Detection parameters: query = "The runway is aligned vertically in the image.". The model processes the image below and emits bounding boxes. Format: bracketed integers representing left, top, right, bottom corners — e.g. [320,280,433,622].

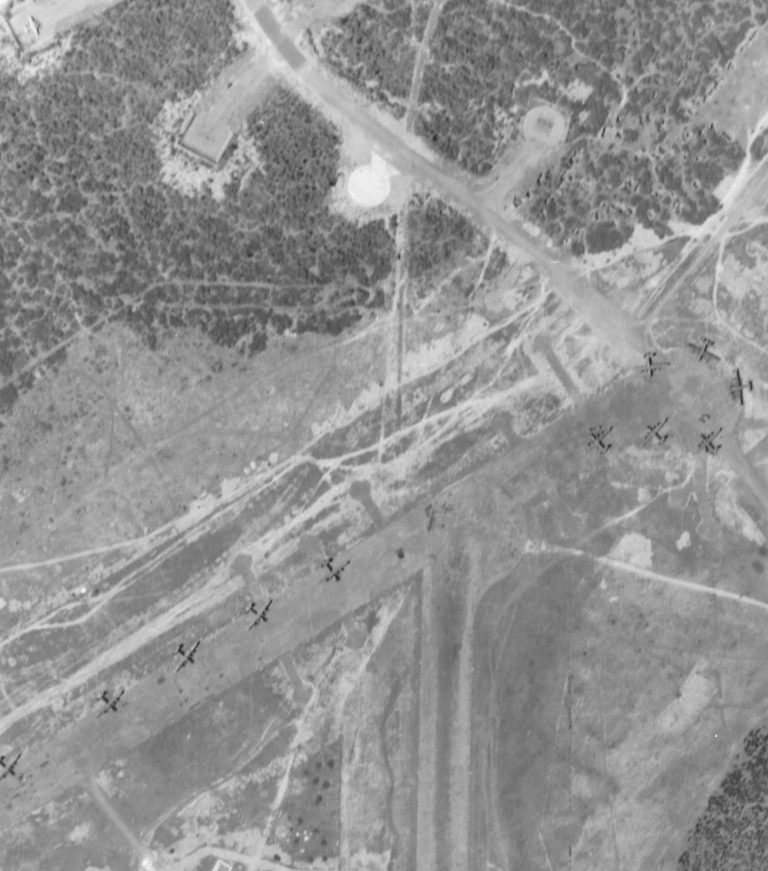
[416,541,481,871]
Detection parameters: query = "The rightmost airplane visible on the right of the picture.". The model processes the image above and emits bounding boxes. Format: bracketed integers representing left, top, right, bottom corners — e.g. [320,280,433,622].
[731,369,753,406]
